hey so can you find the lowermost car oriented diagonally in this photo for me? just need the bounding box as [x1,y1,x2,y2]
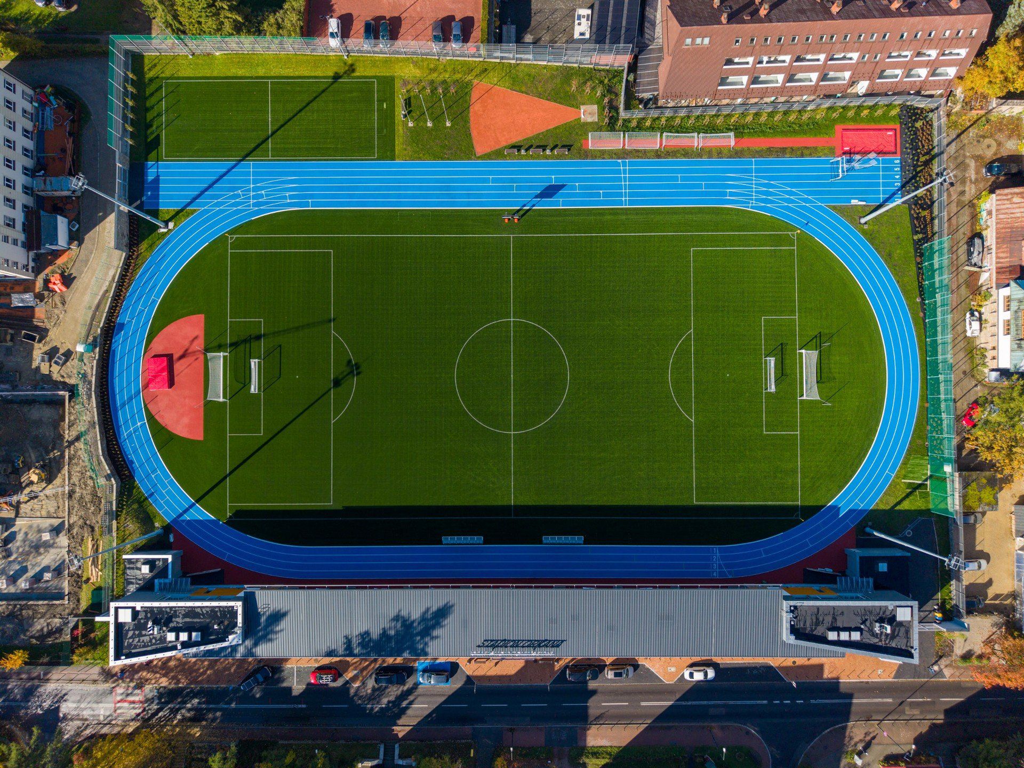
[241,665,271,690]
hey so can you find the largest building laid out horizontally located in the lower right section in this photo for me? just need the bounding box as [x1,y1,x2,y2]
[761,571,918,663]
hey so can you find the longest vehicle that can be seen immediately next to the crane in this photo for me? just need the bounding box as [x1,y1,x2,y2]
[11,461,53,488]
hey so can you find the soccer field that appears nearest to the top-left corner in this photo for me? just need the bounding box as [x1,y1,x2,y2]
[142,75,396,161]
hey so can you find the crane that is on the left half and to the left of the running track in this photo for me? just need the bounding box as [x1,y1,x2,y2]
[0,486,70,527]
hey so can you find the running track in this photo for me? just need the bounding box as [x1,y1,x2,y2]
[109,157,920,579]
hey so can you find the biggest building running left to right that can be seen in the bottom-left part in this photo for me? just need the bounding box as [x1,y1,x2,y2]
[110,573,268,665]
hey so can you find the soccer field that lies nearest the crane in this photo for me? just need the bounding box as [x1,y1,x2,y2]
[141,206,887,546]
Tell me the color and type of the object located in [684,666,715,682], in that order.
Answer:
white car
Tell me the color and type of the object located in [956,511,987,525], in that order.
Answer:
gray car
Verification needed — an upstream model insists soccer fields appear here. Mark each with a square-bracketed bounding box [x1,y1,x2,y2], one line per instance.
[141,206,887,546]
[142,75,396,161]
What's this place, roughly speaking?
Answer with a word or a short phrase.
sports ground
